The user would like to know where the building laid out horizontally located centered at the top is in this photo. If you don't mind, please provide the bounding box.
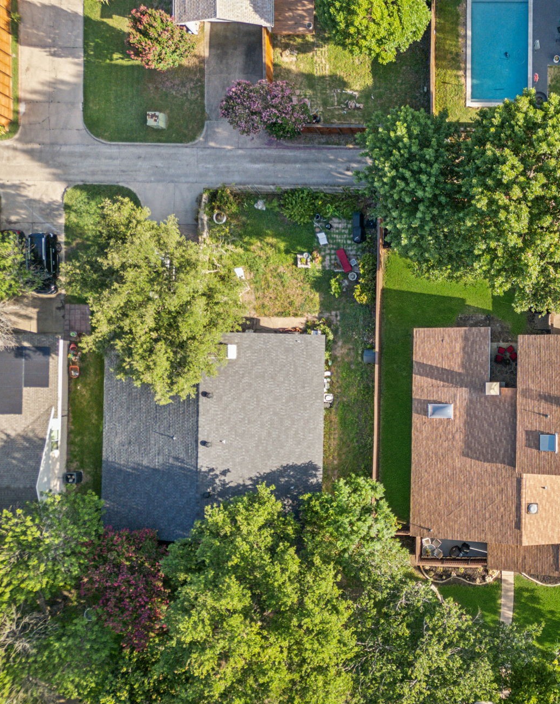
[173,0,281,47]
